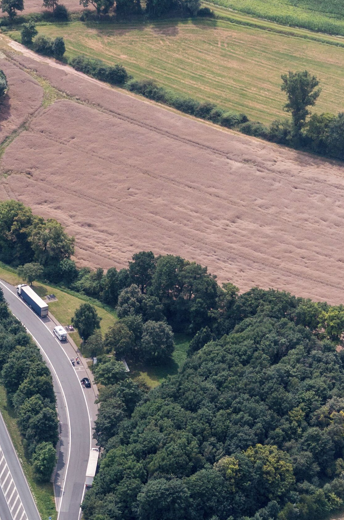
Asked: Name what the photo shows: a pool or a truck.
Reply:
truck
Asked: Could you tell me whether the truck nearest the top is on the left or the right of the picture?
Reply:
left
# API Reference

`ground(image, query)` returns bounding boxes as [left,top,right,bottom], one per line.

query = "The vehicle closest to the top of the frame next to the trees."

[13,283,48,316]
